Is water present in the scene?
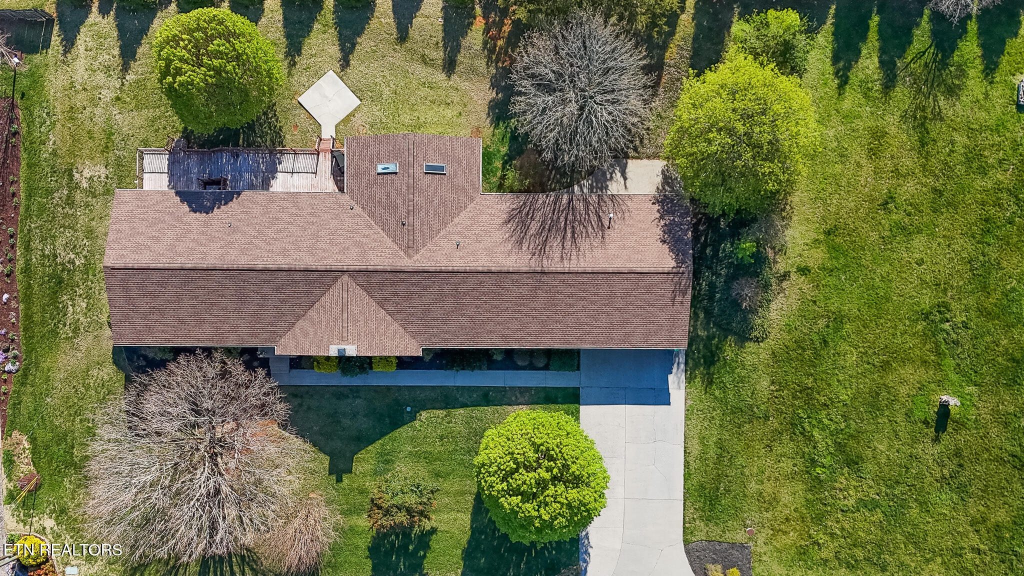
No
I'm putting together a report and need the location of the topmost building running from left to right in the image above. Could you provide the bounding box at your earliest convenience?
[101,132,692,357]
